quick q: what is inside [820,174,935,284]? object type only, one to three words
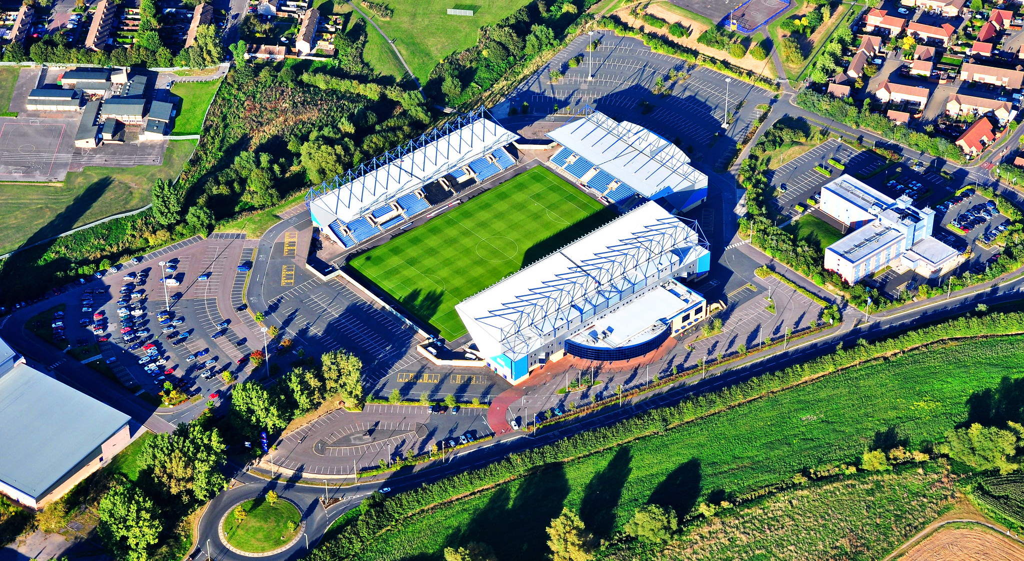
building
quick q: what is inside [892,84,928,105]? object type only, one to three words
house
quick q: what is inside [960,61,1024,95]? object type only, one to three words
house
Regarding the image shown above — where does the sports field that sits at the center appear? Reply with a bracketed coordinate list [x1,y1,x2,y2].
[343,164,620,342]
